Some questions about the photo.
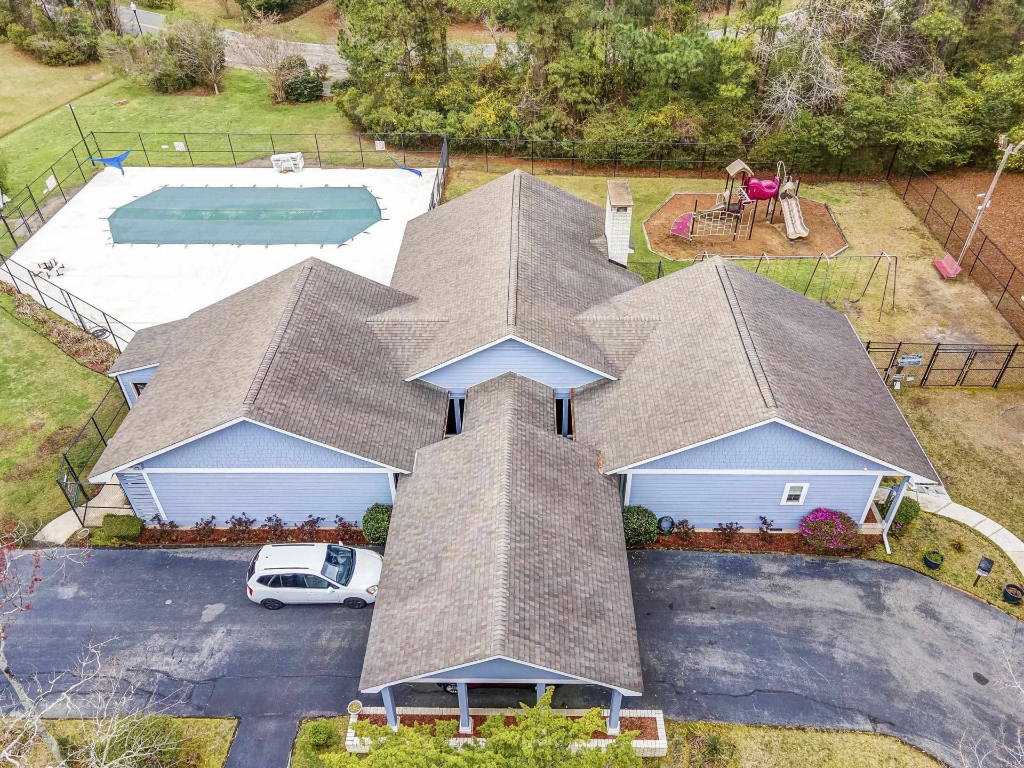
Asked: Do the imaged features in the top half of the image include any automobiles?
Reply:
No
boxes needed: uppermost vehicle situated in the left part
[242,540,384,608]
